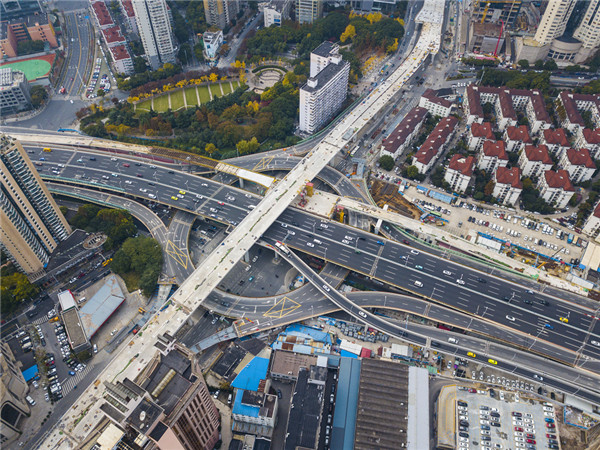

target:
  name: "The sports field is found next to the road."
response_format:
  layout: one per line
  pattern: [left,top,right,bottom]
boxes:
[12,53,55,79]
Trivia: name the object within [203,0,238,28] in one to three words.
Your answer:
building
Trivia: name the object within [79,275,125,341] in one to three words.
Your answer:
building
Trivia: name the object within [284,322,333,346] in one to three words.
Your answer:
shed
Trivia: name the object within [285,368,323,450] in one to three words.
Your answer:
shed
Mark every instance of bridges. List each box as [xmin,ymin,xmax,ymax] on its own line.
[33,0,448,450]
